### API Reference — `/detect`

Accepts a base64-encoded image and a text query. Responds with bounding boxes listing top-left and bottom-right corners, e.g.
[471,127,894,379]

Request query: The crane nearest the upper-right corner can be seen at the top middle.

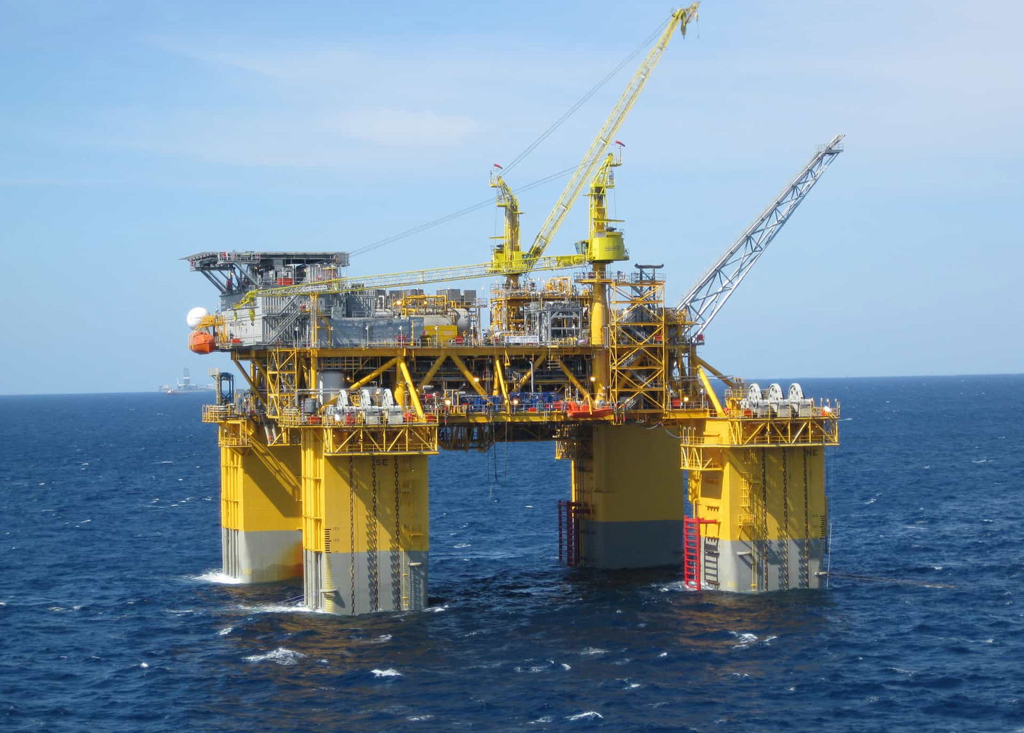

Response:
[480,1,699,331]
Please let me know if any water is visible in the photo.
Yes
